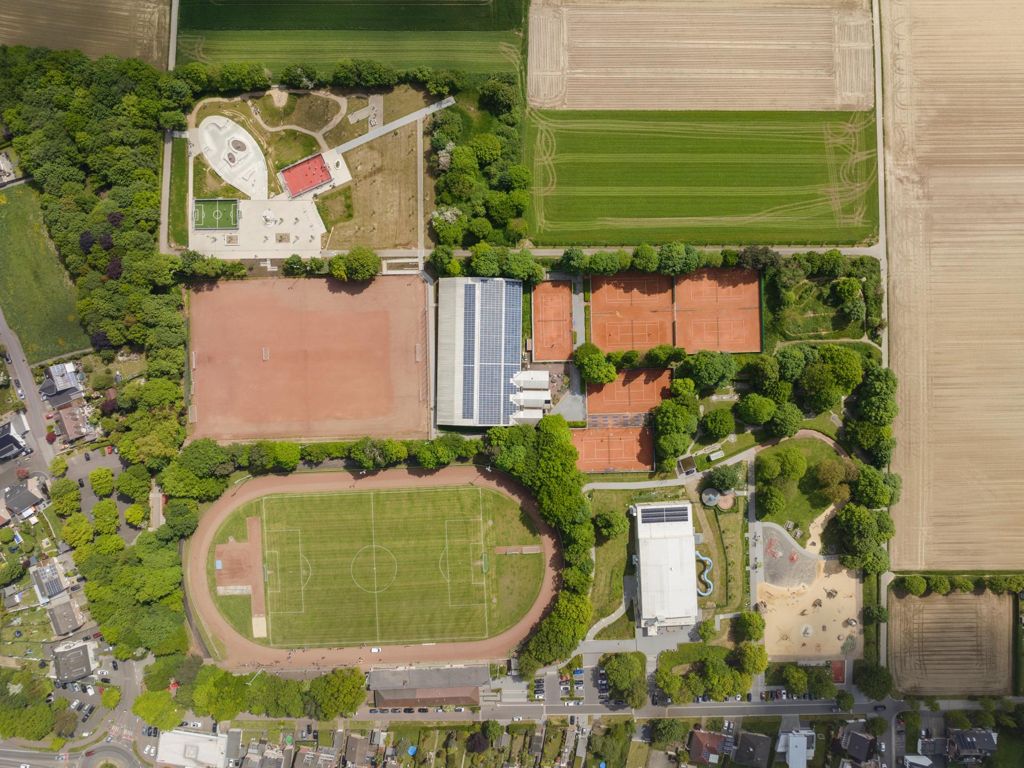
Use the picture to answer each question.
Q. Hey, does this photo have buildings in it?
Yes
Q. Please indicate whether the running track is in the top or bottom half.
bottom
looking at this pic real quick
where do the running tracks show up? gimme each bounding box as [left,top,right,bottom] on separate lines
[189,466,564,668]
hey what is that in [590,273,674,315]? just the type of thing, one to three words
tennis court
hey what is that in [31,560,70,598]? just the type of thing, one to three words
house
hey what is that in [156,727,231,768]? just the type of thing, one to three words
building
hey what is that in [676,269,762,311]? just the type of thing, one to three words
tennis court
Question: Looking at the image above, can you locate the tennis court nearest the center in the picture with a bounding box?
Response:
[533,280,573,361]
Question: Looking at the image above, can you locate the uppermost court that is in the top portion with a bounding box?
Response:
[278,151,333,198]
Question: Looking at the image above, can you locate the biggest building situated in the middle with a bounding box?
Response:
[437,278,523,425]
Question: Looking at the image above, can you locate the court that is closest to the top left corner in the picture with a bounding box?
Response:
[189,197,242,230]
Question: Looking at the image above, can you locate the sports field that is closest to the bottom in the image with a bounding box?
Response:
[206,486,545,649]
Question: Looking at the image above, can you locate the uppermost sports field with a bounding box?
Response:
[186,274,429,445]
